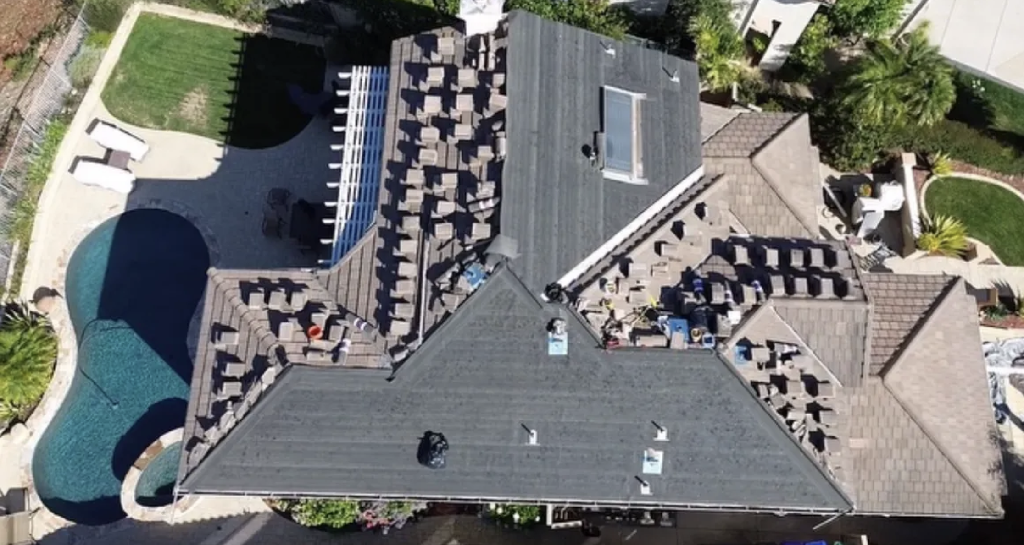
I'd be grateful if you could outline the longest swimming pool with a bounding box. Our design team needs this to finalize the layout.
[34,210,209,525]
